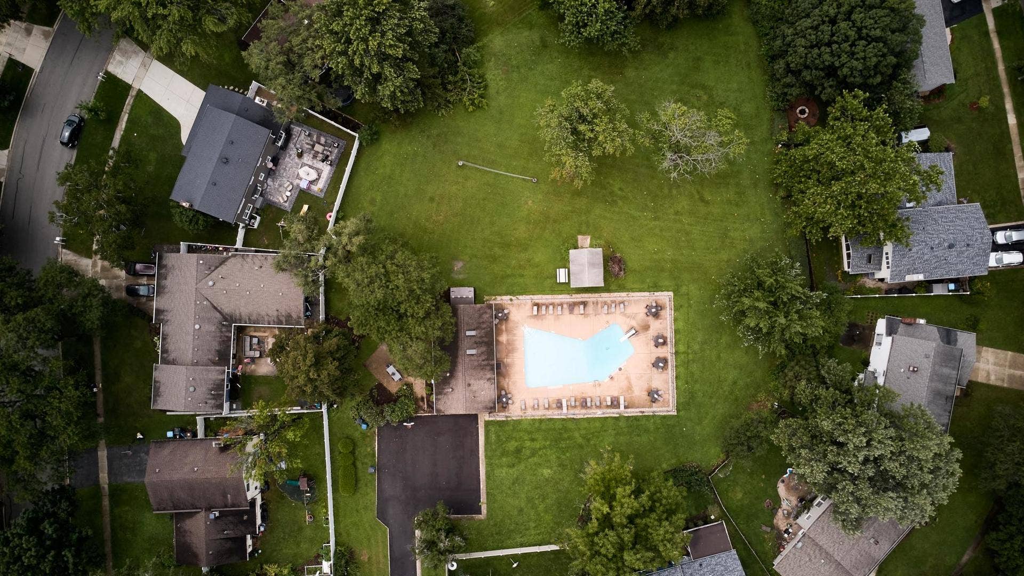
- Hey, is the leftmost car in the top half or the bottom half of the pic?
top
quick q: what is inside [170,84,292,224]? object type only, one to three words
house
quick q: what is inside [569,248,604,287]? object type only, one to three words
shed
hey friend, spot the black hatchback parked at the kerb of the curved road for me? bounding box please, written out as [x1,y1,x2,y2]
[57,113,86,150]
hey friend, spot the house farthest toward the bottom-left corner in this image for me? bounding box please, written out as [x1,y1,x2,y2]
[144,436,264,574]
